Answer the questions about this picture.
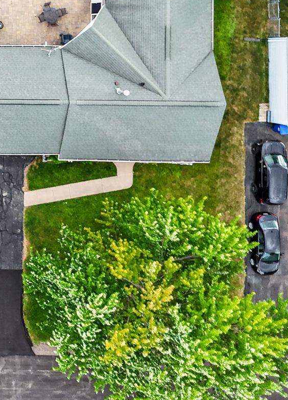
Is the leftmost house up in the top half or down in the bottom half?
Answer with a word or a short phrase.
top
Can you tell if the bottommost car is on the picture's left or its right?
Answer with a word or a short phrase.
right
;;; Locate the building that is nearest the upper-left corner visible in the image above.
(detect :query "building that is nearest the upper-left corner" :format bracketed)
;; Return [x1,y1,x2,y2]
[0,0,225,163]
